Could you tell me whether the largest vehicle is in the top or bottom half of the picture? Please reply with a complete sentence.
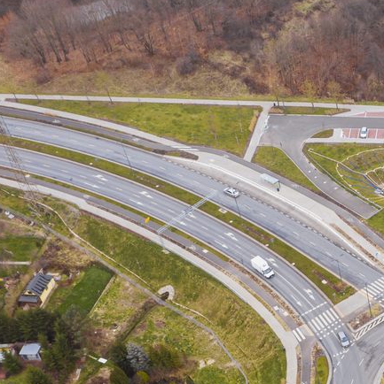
The bottom half of the photo is where the largest vehicle is.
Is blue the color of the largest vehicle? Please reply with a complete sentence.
No, the largest vehicle is white.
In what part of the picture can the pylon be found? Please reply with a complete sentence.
Look in the left portion of the view to spot the pylon.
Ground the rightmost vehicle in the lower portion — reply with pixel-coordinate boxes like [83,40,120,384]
[335,331,350,347]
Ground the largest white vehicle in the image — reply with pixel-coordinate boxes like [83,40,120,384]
[250,256,272,278]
